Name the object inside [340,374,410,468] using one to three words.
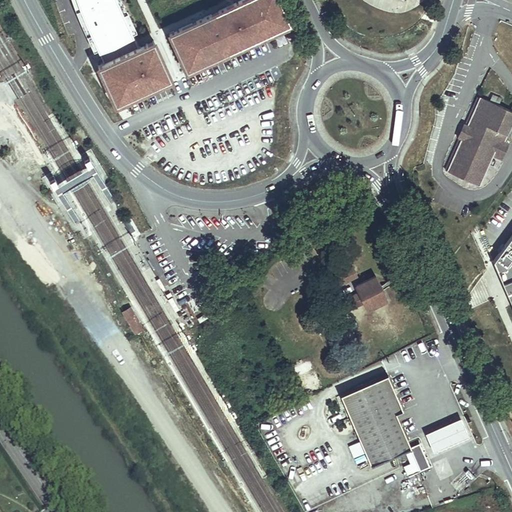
building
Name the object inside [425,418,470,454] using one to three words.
shed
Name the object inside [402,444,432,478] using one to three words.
building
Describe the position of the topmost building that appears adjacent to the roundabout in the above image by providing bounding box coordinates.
[170,0,292,76]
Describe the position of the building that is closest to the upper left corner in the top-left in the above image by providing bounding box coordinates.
[70,0,139,56]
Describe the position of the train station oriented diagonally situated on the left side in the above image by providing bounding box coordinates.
[60,148,170,310]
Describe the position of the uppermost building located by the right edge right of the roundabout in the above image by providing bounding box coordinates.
[448,92,512,186]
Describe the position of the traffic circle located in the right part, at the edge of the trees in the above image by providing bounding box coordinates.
[298,48,414,175]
